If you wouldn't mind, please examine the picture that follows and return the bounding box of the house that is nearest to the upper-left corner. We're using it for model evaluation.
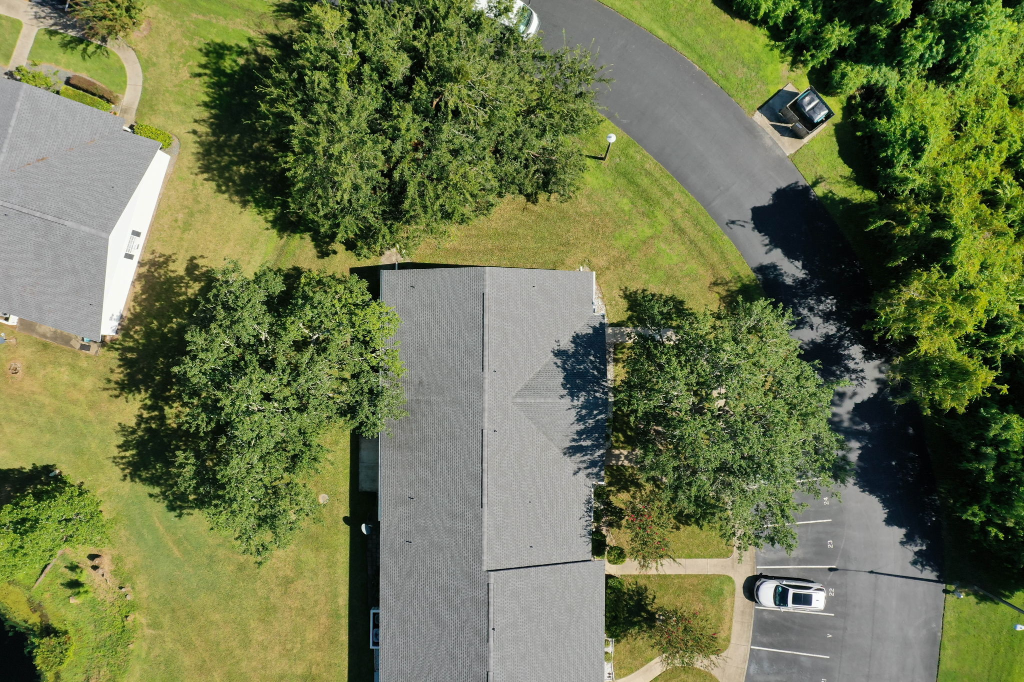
[0,79,170,338]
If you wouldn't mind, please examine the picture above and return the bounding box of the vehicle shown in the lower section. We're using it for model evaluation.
[753,574,827,611]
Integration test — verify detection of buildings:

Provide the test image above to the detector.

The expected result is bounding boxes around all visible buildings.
[379,267,607,682]
[0,79,170,338]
